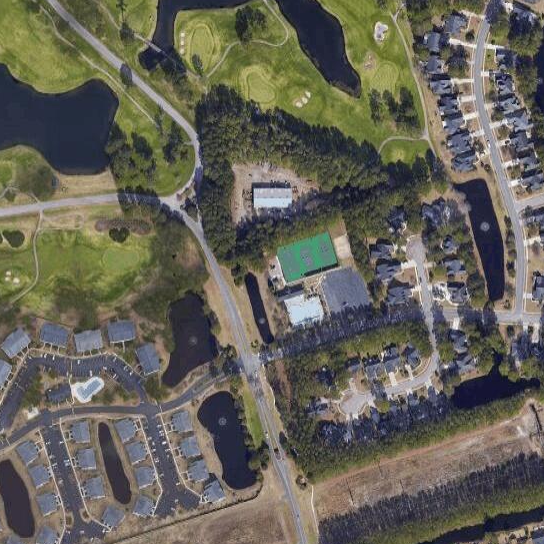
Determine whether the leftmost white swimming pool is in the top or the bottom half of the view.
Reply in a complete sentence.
The leftmost white swimming pool sits in the bottom half of the picture.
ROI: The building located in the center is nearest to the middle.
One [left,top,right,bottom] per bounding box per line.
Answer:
[278,282,306,301]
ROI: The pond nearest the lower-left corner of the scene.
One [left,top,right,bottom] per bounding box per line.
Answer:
[0,459,35,537]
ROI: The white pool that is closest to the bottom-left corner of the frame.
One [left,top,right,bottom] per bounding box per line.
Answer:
[71,377,104,402]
